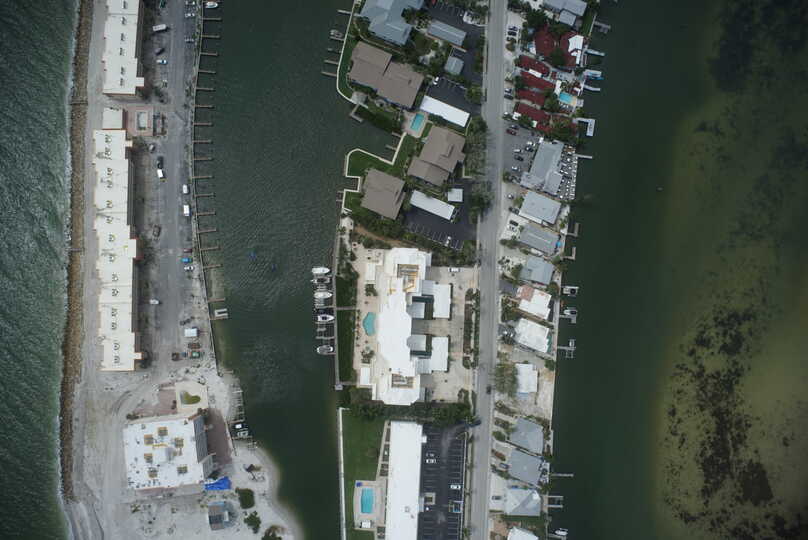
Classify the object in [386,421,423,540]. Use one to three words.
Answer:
building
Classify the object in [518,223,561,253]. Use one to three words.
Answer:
house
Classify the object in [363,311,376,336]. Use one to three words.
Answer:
swimming pool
